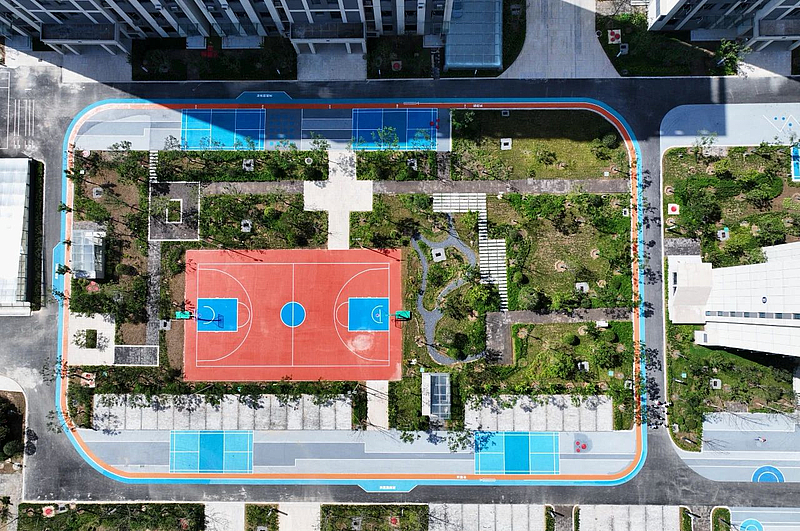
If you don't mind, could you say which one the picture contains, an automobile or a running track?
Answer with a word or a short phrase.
running track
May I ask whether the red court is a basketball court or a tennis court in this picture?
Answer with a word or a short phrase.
basketball court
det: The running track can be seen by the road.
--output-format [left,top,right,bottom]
[52,91,647,493]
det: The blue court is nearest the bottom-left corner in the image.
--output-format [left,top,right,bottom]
[170,430,253,473]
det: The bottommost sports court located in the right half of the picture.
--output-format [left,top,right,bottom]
[474,431,559,474]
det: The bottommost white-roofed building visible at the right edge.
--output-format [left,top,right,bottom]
[666,241,800,361]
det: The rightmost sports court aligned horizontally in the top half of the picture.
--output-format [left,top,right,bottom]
[352,109,438,151]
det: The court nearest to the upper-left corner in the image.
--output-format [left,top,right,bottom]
[181,109,266,151]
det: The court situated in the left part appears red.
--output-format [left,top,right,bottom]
[184,250,402,382]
